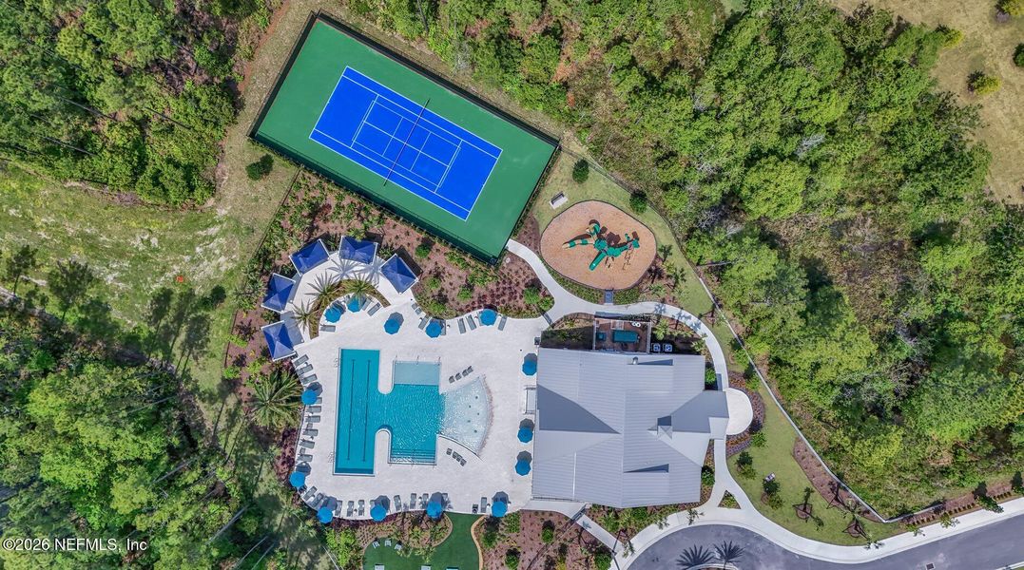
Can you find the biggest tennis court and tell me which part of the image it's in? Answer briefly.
top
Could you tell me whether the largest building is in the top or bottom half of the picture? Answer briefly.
bottom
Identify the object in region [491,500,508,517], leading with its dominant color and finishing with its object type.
blue umbrella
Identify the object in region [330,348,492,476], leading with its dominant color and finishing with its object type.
blue swimming pool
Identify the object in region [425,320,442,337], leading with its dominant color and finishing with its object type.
blue umbrella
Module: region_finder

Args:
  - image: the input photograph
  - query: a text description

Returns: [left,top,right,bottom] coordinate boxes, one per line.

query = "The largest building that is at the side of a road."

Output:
[531,348,729,508]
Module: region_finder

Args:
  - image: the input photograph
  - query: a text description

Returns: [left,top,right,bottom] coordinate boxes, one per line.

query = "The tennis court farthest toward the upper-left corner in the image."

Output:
[253,17,558,262]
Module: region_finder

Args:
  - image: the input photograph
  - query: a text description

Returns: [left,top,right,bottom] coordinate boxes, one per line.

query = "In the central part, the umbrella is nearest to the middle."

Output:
[480,308,496,324]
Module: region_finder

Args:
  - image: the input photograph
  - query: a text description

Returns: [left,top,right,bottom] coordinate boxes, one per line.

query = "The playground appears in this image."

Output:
[540,199,658,291]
